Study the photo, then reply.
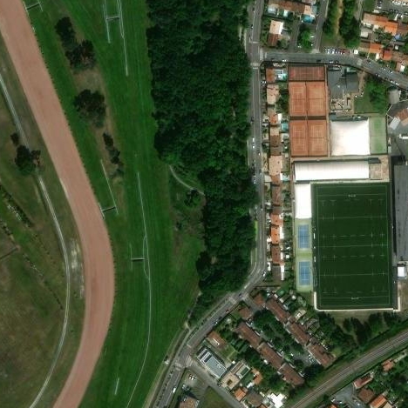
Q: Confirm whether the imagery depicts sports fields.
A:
Yes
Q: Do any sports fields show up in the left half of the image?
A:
No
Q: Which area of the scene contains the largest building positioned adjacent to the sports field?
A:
right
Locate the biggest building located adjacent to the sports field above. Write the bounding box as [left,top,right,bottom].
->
[294,161,369,182]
